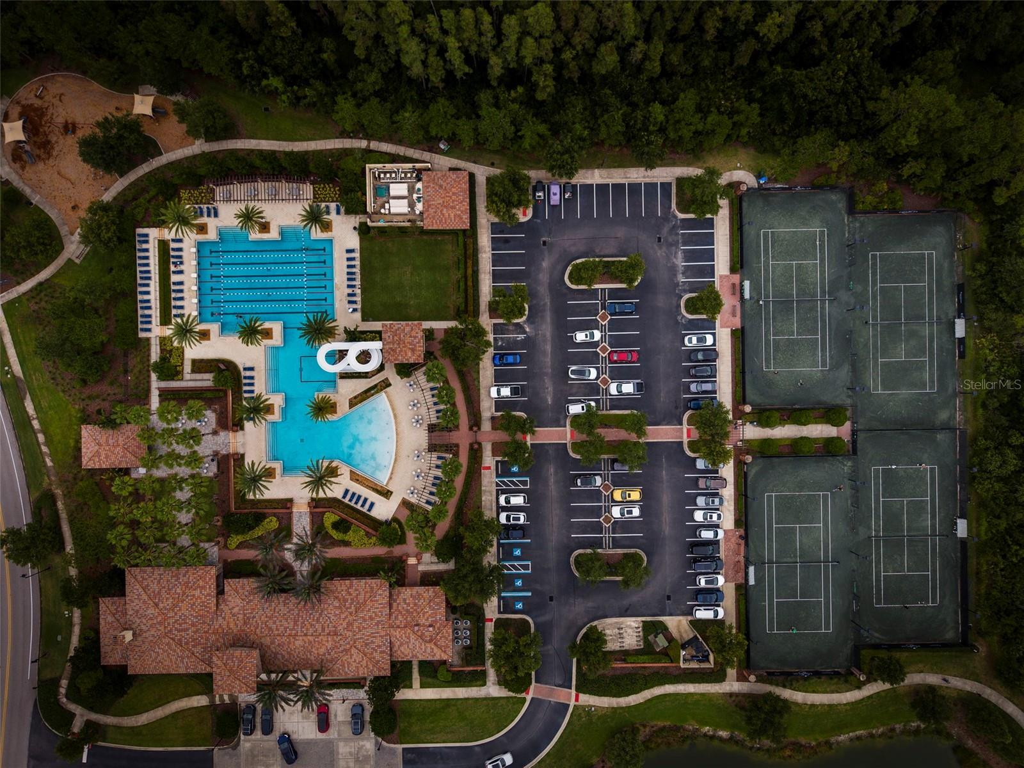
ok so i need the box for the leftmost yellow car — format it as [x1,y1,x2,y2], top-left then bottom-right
[612,488,642,502]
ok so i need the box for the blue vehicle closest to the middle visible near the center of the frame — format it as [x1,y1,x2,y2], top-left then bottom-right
[493,352,520,366]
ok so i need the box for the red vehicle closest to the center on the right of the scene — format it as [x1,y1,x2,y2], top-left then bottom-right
[609,349,639,364]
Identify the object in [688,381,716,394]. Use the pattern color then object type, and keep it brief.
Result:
gray vehicle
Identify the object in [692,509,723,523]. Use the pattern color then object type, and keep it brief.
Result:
white car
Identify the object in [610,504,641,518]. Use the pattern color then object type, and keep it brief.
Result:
white car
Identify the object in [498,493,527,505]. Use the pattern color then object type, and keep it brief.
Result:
white vehicle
